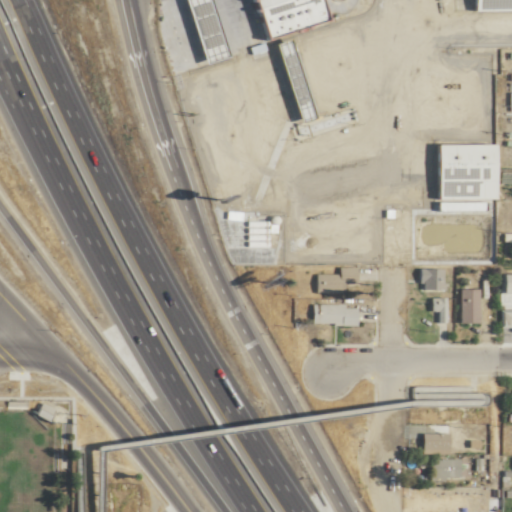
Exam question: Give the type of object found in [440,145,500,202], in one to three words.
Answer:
building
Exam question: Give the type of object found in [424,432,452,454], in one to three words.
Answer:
house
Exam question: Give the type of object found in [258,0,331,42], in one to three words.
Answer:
building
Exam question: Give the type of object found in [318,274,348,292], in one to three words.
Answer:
house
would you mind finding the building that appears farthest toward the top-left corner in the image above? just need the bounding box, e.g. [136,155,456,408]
[190,0,231,64]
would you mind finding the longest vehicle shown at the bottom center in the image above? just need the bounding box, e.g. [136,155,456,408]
[215,367,241,407]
